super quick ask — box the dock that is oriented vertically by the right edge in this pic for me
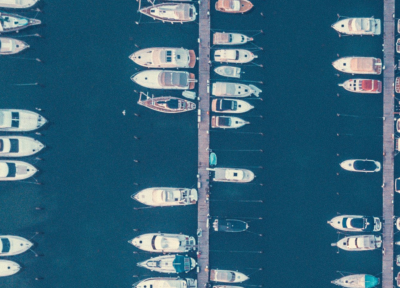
[382,0,395,288]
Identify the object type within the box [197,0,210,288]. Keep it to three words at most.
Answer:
pier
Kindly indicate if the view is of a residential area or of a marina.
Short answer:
marina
